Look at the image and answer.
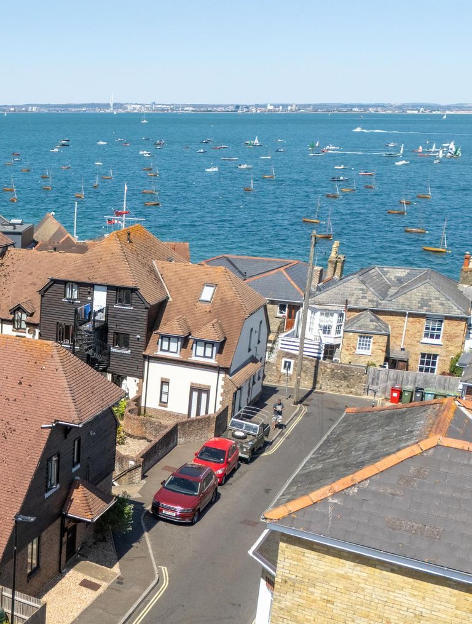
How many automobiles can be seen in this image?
three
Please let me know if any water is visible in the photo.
Yes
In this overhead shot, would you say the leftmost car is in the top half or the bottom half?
bottom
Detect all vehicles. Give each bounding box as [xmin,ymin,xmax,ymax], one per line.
[215,407,261,452]
[197,442,245,487]
[157,464,220,522]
